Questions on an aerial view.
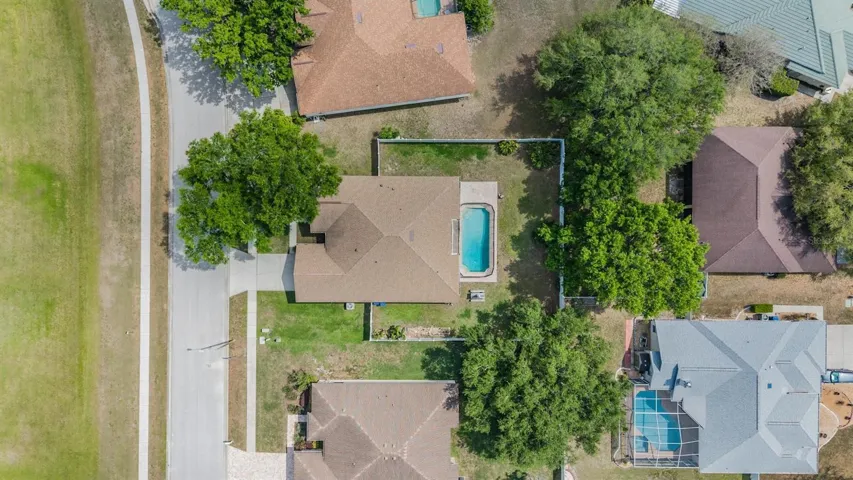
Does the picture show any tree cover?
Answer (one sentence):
Yes, the picture does contain tree cover.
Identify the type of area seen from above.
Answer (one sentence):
The picture captures a residential area.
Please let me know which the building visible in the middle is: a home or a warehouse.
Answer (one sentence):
The building visible in the middle appears to be a home.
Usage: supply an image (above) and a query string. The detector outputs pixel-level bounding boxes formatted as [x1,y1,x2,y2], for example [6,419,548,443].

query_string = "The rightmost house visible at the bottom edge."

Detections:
[646,319,823,474]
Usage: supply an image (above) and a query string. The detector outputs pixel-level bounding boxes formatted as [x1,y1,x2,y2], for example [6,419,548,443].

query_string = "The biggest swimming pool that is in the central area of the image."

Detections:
[460,204,493,273]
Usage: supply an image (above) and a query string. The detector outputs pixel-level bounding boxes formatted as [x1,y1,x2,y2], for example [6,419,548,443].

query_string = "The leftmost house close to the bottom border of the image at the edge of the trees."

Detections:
[294,381,457,480]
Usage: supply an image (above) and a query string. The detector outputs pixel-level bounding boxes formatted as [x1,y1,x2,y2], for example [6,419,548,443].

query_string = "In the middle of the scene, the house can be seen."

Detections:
[292,177,461,303]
